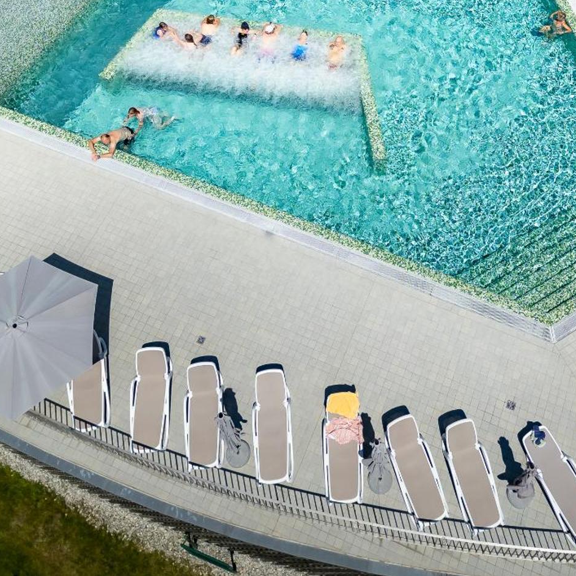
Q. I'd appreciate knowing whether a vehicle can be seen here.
No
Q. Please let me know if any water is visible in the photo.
Yes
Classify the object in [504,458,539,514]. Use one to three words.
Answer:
umbrella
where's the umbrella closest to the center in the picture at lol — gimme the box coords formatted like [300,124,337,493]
[214,411,252,470]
